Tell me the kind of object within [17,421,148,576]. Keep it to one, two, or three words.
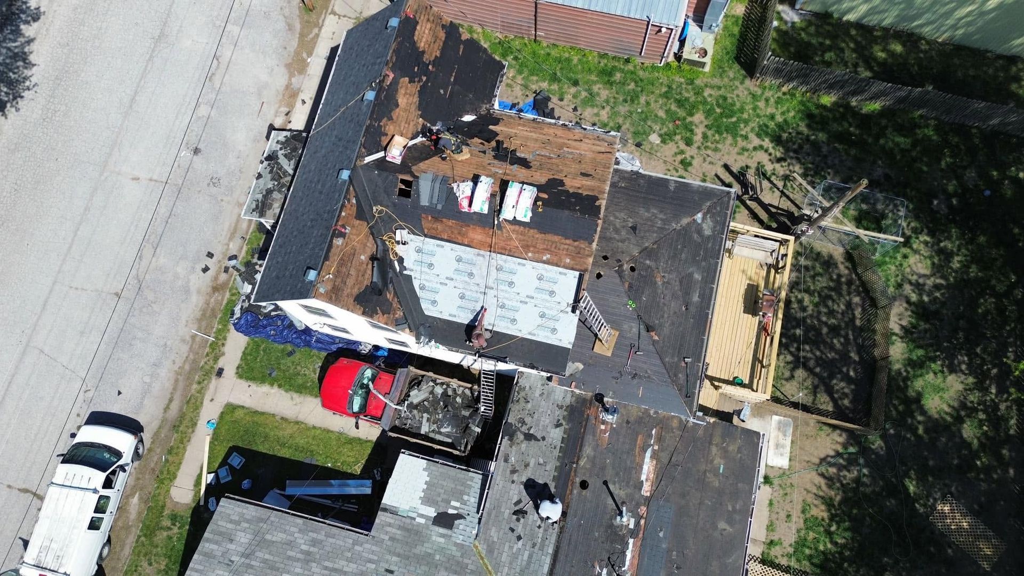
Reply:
van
